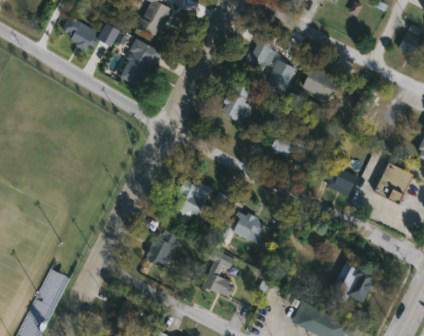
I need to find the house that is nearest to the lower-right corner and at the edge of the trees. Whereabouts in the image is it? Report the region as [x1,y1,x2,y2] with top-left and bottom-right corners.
[334,262,374,302]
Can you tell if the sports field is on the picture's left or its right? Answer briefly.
left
